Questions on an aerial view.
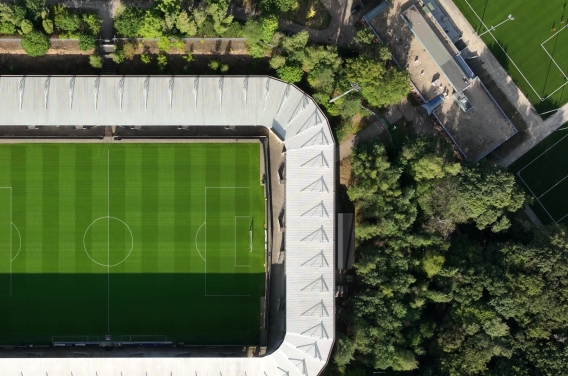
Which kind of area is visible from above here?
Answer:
sports ground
